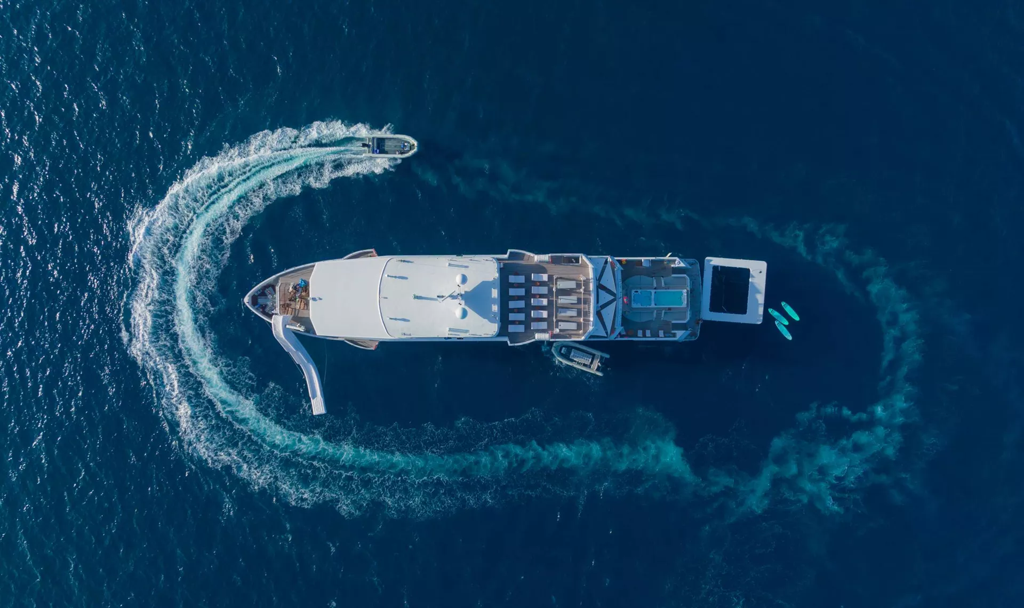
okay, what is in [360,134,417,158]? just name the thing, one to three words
boat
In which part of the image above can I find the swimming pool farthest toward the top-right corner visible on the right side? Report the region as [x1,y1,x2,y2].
[701,257,767,324]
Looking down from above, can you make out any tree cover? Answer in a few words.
No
